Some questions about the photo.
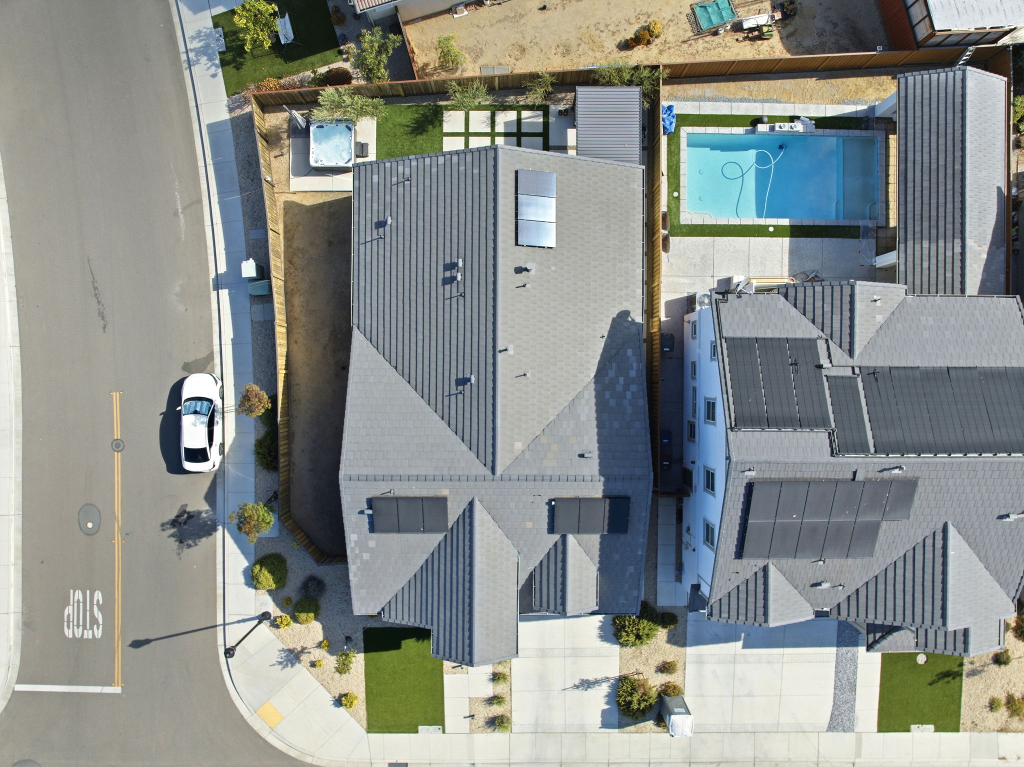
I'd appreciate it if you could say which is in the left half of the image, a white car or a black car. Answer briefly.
white car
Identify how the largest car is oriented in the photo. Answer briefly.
vertically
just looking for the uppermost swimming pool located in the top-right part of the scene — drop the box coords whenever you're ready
[680,127,885,226]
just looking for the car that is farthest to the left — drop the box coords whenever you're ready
[172,374,223,472]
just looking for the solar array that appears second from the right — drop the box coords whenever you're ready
[553,498,630,533]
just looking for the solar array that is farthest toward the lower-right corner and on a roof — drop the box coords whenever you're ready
[742,481,919,559]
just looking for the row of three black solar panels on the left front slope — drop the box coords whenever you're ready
[371,497,449,533]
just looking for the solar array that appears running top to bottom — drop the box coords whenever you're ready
[517,169,555,249]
